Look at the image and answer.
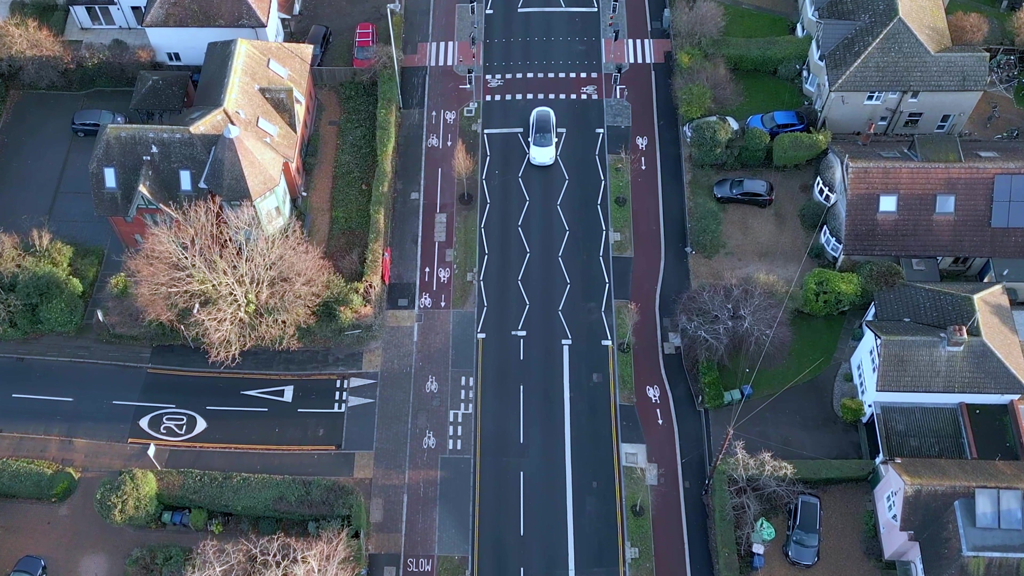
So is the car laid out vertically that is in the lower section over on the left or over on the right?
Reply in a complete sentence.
The car laid out vertically that is in the lower section is on the right side of the image.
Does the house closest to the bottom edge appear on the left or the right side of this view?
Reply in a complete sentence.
It is on the right.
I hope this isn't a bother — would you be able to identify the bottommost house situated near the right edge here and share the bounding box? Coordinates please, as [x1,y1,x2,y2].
[876,461,1024,576]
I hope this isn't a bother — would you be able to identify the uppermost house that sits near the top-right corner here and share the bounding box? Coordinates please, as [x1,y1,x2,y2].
[794,0,990,130]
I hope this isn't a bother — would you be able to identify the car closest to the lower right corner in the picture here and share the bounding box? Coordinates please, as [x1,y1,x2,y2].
[785,491,823,571]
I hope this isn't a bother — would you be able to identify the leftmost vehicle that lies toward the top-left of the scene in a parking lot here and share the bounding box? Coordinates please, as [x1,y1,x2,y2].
[70,107,130,138]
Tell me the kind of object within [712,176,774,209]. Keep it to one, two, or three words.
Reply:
car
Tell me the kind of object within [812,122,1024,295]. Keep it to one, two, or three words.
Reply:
house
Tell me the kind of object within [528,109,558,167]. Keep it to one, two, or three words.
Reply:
car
